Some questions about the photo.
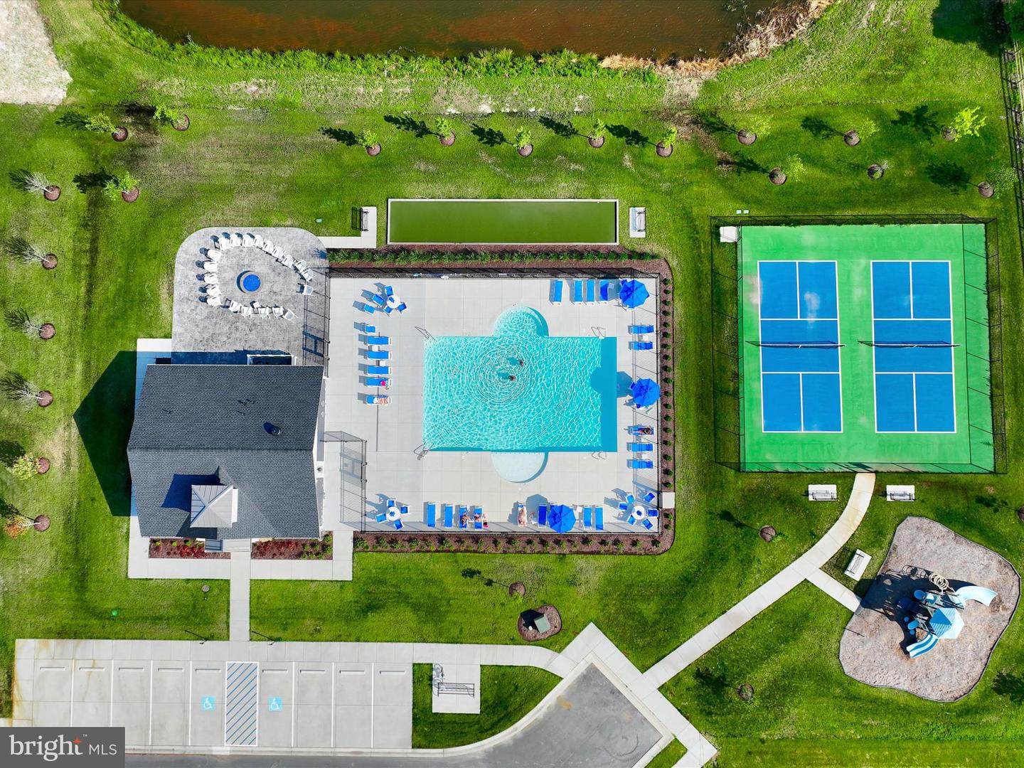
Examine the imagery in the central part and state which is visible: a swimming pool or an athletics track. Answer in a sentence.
The one visible in the central part is a swimming pool.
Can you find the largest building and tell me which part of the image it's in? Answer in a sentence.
The largest building sits in the left section of the image.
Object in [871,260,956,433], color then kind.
blue sports court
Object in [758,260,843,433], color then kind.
blue sports court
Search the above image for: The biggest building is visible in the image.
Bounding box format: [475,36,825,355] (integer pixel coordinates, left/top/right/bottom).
[127,352,328,552]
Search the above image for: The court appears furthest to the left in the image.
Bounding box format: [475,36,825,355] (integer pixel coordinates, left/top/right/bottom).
[388,199,619,245]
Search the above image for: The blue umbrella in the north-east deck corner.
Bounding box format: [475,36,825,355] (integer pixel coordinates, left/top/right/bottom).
[618,279,648,309]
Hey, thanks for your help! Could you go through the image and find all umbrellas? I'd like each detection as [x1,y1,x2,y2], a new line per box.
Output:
[628,377,659,408]
[547,504,576,533]
[618,279,648,309]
